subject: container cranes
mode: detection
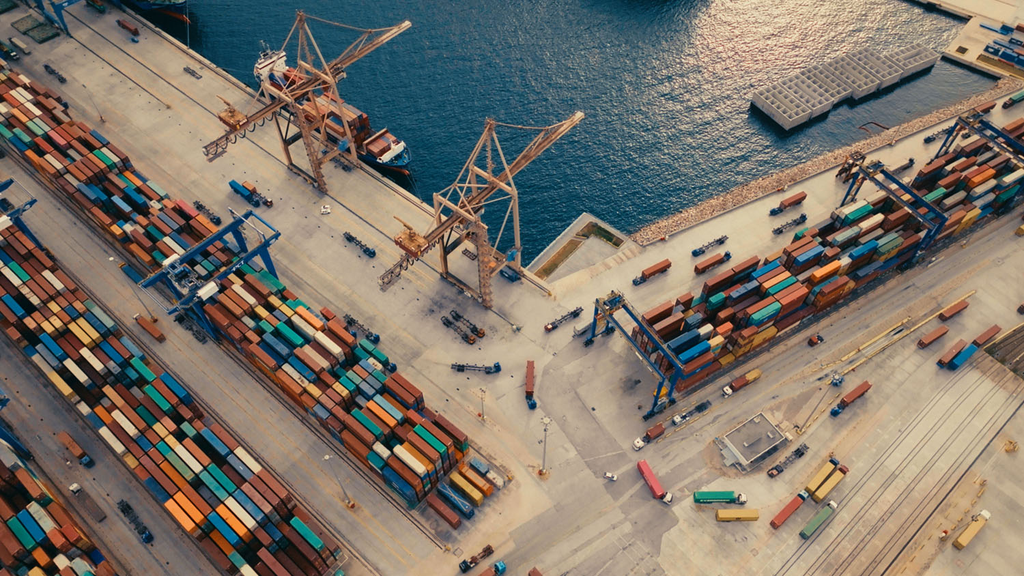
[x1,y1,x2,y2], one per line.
[374,109,588,310]
[836,158,955,269]
[585,288,688,418]
[930,111,1024,213]
[195,5,411,195]
[0,178,50,256]
[137,208,282,342]
[35,0,87,37]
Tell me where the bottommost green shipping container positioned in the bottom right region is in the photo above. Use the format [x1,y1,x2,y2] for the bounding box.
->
[800,505,835,540]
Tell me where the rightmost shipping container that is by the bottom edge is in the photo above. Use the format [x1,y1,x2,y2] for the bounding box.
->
[953,514,989,549]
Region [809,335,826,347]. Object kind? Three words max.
vehicle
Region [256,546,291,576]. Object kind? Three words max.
shipping container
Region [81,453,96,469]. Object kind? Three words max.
vehicle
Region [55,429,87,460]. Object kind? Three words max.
shipping container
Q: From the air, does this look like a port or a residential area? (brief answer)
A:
port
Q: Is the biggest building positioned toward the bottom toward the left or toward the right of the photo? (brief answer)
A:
right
